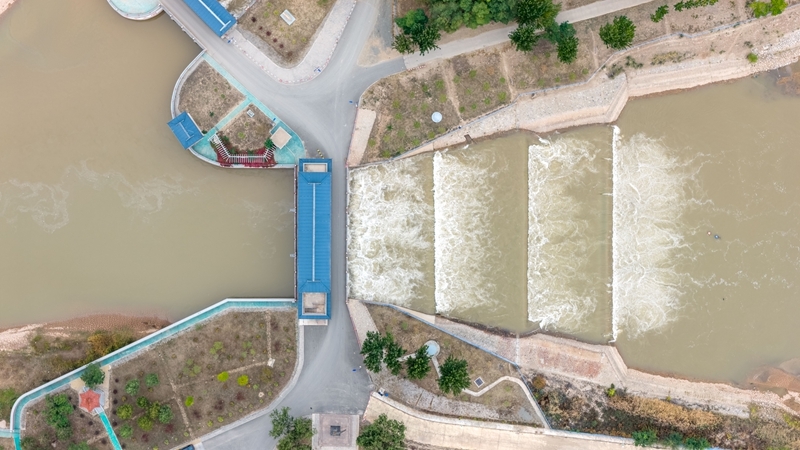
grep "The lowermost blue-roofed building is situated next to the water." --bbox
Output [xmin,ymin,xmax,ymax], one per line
[296,159,332,326]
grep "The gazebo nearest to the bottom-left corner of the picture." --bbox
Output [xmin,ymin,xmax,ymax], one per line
[80,385,104,413]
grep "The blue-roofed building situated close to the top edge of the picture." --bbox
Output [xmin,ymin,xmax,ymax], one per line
[185,0,238,38]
